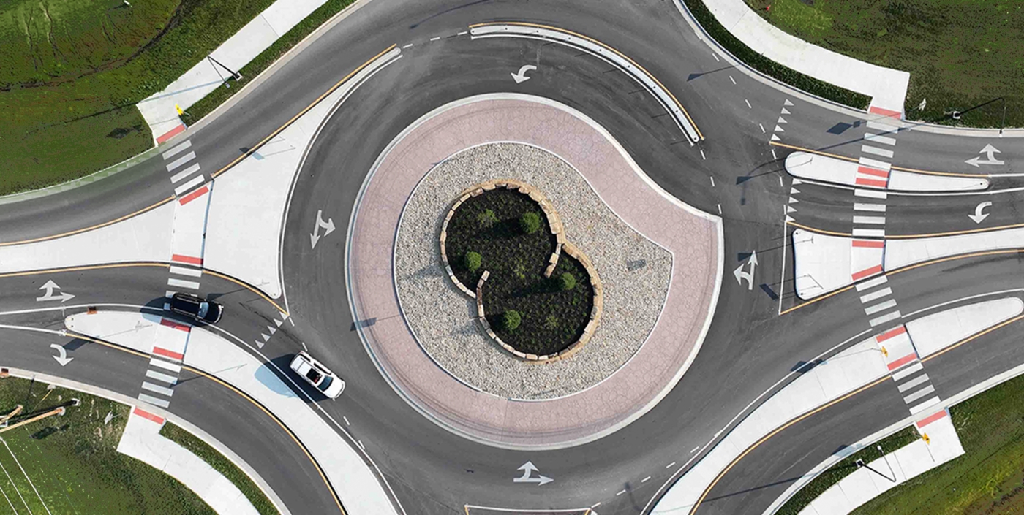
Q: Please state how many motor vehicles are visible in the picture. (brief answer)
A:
2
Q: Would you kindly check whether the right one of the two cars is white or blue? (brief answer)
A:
white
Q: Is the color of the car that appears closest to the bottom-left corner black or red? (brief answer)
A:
black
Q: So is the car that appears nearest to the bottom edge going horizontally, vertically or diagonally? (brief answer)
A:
diagonally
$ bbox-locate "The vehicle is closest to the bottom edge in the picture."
[289,350,344,397]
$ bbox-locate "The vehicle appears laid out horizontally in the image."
[169,293,223,323]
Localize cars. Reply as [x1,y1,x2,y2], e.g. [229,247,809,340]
[289,350,344,397]
[169,293,223,323]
